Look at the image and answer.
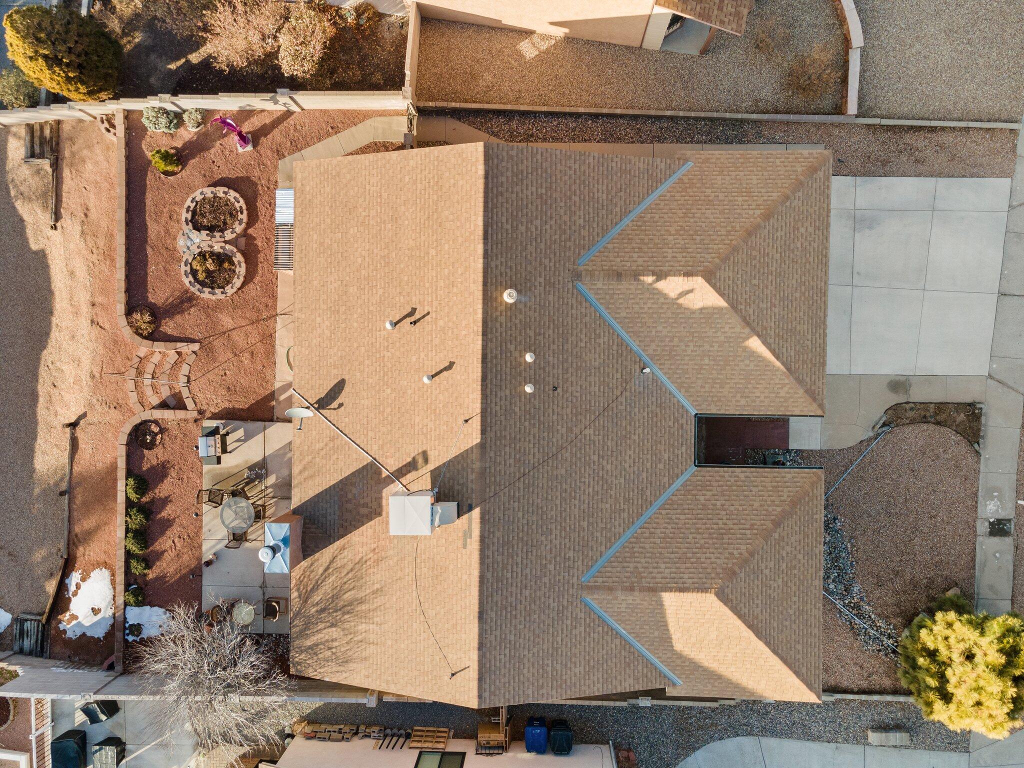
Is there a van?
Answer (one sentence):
No, no van is visible in the scene.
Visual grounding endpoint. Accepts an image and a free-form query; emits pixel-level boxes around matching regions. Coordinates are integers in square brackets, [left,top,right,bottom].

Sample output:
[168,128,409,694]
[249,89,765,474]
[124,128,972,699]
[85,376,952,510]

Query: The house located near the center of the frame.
[263,140,835,709]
